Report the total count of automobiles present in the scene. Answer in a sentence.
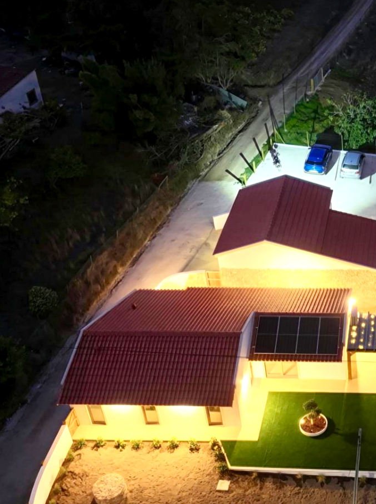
Altogether the scene contains 2 automobiles.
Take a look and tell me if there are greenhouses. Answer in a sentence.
No, there is no greenhouse in the image.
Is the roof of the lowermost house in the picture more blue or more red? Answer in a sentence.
The roof of the lowermost house is red.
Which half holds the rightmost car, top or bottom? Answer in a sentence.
The rightmost car sits in the top half of the picture.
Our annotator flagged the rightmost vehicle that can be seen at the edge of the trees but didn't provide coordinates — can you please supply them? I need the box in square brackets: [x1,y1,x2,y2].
[339,150,366,178]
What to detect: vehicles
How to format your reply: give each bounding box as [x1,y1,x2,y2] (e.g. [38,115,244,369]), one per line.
[339,150,366,178]
[302,143,334,174]
[268,144,279,168]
